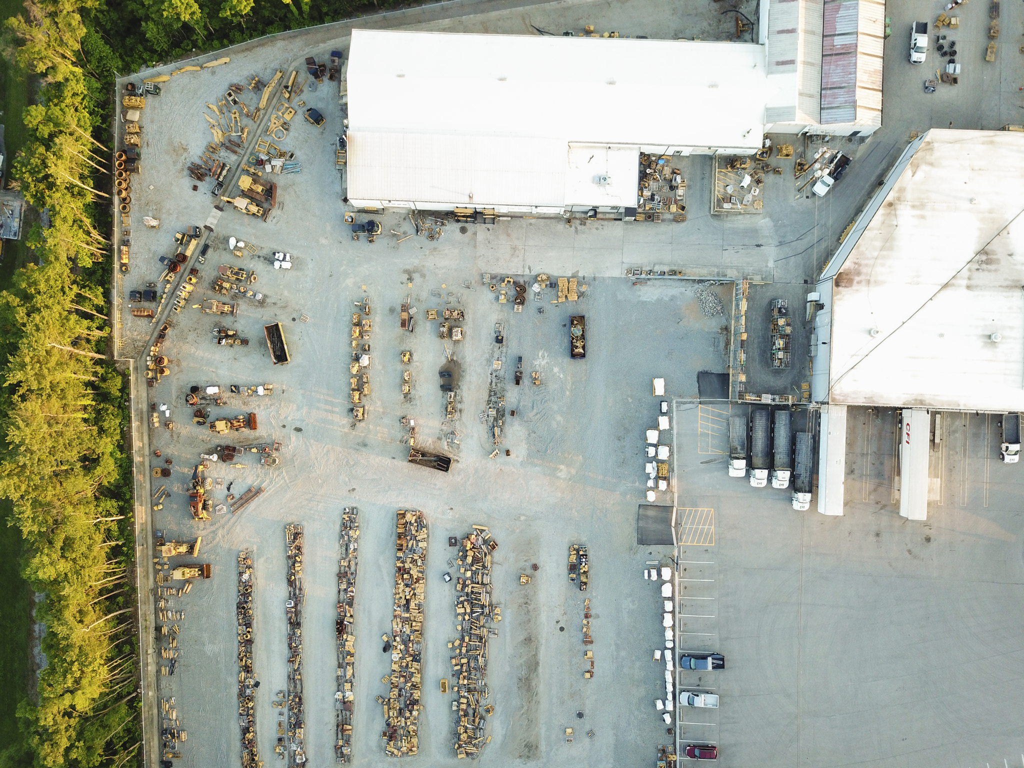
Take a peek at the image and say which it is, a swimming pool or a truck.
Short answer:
truck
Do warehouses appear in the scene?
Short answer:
Yes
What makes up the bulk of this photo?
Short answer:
paved ground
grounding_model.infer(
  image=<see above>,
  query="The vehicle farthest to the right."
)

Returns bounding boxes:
[991,414,1021,462]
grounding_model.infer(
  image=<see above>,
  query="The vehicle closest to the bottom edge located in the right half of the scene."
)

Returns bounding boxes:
[684,743,719,762]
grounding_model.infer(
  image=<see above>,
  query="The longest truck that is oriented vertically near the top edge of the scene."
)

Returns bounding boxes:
[908,21,930,66]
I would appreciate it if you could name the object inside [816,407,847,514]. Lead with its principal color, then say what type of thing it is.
white trailer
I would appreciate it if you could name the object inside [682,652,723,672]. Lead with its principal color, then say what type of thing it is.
blue vehicle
